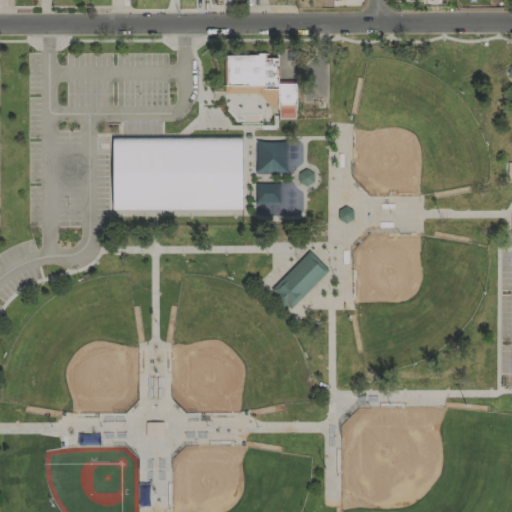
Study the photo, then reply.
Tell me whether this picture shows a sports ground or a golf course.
sports ground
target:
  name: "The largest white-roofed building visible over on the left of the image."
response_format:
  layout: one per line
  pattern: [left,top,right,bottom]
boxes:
[113,138,243,211]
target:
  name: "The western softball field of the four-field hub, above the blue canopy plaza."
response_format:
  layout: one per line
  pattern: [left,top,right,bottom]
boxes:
[0,273,144,417]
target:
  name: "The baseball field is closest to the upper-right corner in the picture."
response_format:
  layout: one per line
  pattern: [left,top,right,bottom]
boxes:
[352,58,491,198]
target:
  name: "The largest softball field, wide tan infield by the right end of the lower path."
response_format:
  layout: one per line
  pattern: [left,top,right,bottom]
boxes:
[342,402,512,512]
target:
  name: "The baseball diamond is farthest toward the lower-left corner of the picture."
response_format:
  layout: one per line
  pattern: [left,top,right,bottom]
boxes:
[46,447,139,512]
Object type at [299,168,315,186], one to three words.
gazebo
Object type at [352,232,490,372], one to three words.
baseball field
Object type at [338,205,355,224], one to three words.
gazebo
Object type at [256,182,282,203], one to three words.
building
